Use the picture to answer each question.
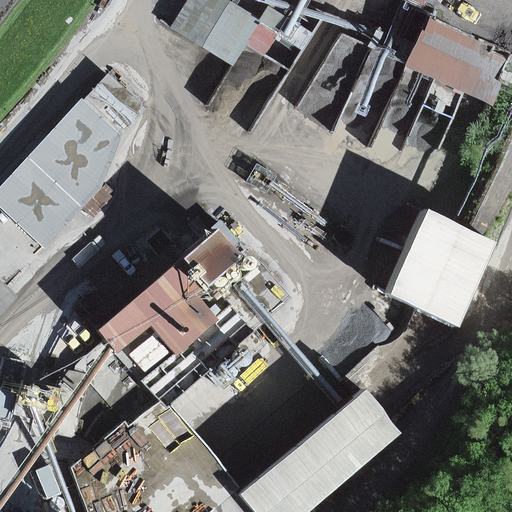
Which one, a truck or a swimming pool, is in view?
truck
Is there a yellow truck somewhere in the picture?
Yes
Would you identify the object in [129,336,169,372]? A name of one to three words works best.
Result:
house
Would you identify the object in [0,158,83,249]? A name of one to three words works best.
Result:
building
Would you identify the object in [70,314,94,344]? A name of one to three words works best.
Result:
work vehicle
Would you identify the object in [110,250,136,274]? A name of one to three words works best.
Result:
truck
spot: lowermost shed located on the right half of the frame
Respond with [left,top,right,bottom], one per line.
[240,387,400,512]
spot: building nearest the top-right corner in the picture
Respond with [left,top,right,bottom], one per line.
[404,16,508,106]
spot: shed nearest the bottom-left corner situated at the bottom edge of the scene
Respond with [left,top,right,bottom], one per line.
[36,464,62,499]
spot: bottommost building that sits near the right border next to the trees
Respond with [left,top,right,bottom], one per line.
[388,209,496,326]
